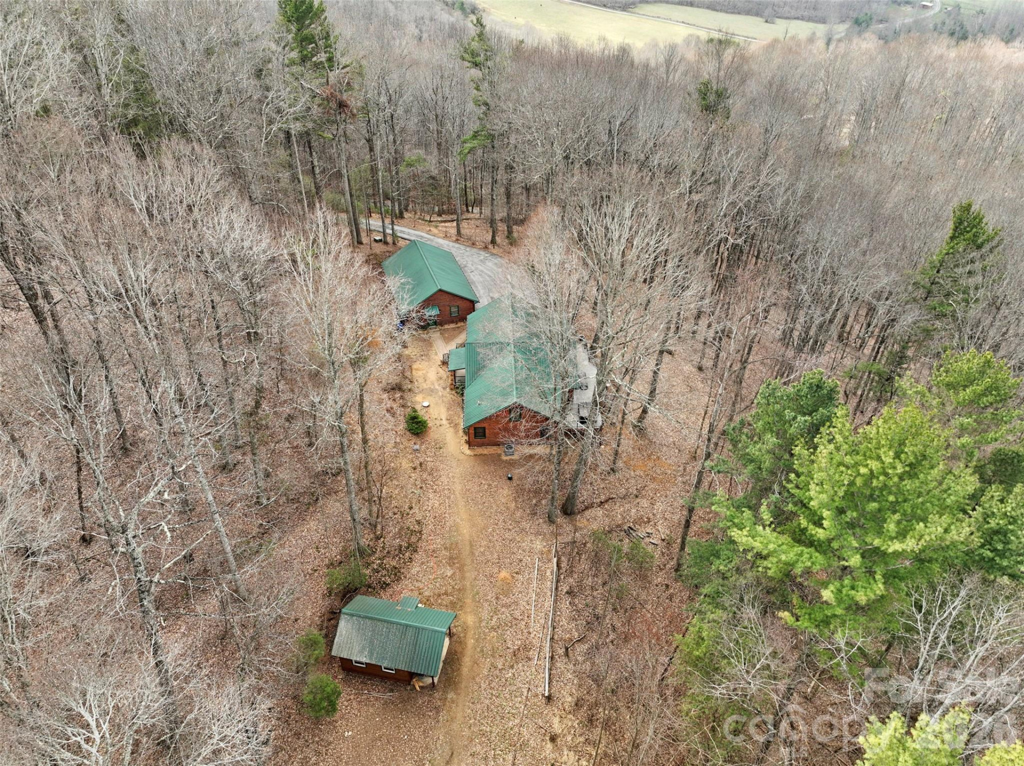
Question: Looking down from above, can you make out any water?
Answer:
No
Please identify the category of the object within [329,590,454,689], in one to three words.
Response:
shed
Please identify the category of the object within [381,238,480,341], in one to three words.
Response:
building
